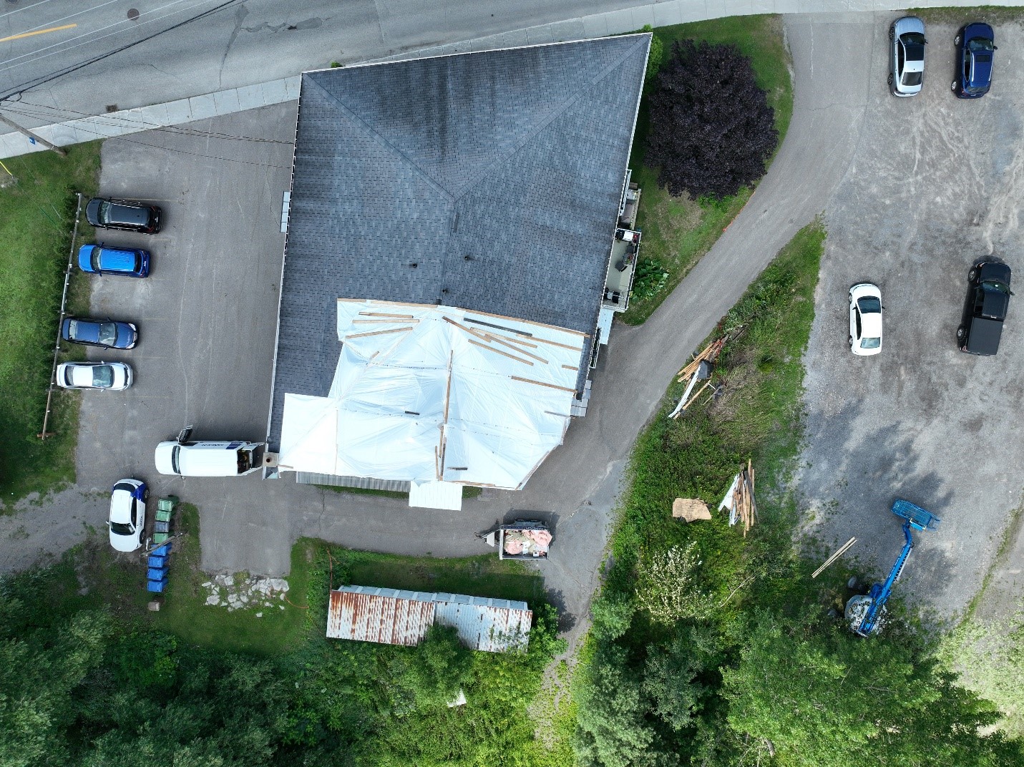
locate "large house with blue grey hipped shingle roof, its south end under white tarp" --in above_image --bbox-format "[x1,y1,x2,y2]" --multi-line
[263,30,654,487]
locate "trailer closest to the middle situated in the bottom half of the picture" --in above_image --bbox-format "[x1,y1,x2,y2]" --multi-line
[473,521,549,564]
